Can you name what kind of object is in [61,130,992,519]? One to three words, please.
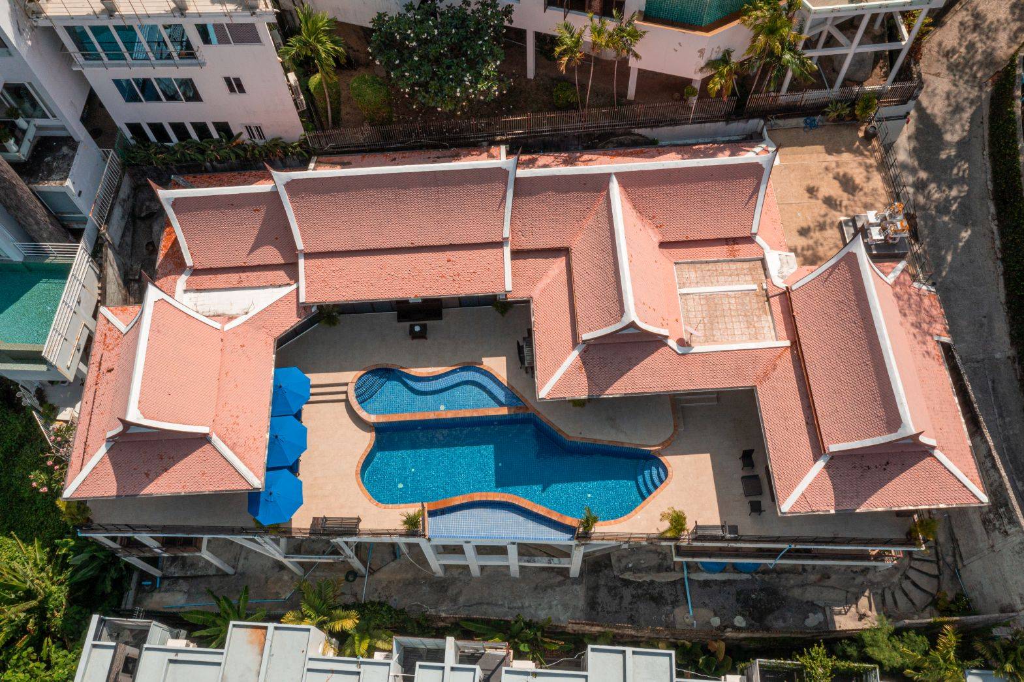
house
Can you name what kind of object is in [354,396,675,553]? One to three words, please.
swimming pool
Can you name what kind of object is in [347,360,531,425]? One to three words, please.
swimming pool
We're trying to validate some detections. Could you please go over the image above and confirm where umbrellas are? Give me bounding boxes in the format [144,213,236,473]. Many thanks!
[276,364,318,418]
[271,415,315,471]
[241,468,311,533]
